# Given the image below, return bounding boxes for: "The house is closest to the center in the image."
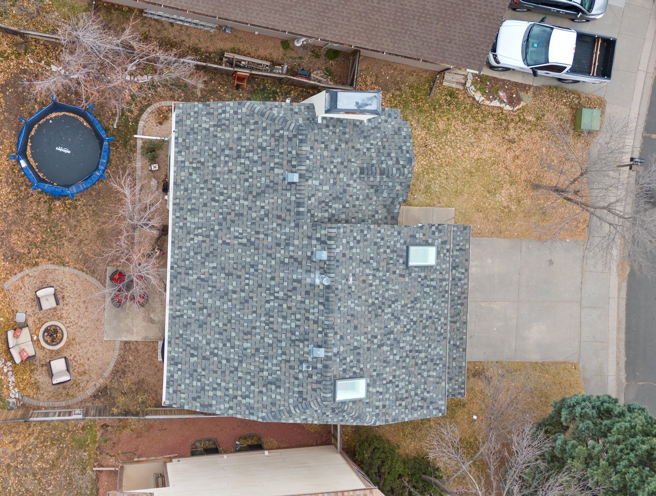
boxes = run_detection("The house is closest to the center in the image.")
[159,89,473,431]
